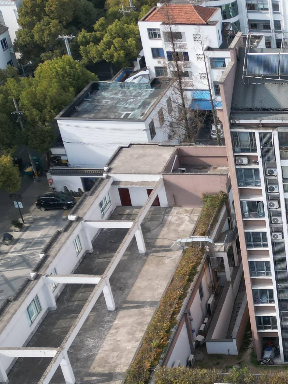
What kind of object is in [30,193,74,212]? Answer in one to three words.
car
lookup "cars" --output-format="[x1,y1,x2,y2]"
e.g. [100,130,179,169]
[30,193,74,212]
[210,125,223,135]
